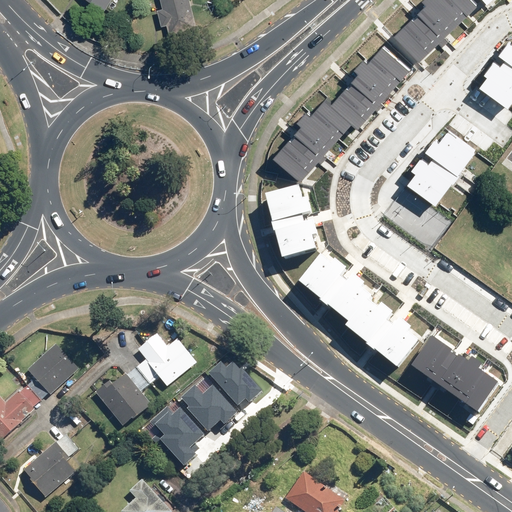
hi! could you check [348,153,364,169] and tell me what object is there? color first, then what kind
white car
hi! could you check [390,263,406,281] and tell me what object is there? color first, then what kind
white vehicle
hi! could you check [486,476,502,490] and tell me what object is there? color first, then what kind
white car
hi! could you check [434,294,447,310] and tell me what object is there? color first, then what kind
white vehicle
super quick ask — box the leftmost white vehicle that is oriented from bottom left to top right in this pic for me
[1,260,18,278]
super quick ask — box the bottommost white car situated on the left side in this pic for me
[159,479,174,494]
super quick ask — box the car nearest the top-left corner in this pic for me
[52,51,66,64]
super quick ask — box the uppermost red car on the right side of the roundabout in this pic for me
[241,98,256,114]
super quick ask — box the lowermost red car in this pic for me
[476,425,490,441]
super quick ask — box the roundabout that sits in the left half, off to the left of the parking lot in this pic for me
[13,79,228,306]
